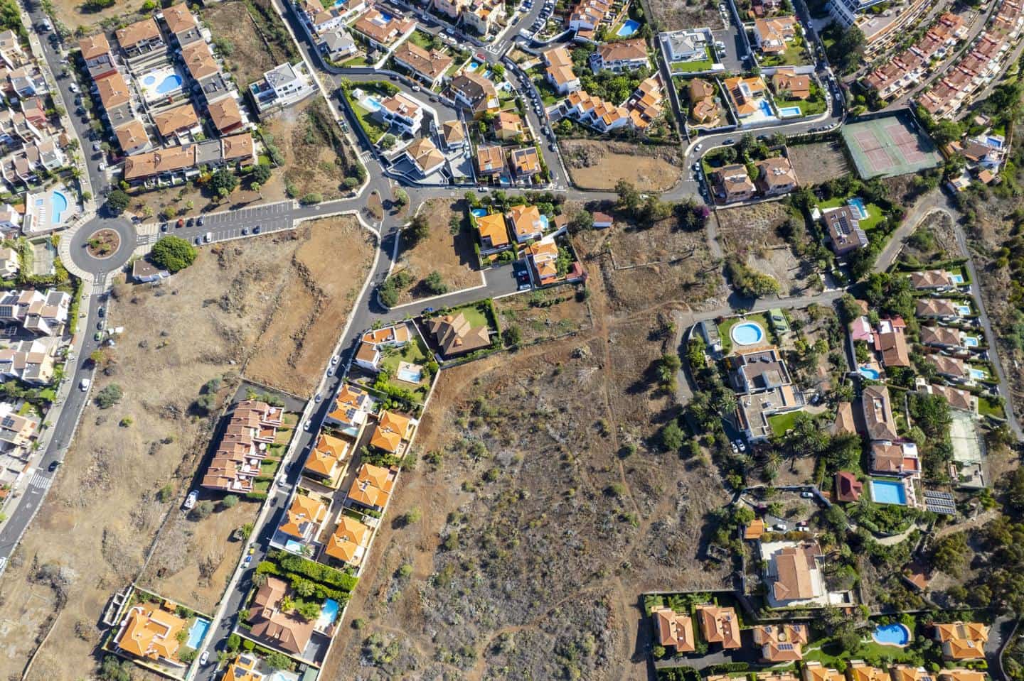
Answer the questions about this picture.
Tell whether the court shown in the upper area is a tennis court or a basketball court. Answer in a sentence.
In the photo, the court shown in the upper area shows up as a tennis court.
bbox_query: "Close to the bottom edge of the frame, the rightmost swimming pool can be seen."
[872,623,910,647]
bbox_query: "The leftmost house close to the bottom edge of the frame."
[123,609,192,661]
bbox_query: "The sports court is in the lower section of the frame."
[949,412,981,463]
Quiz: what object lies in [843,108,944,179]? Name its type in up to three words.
tennis court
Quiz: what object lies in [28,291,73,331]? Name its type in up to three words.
house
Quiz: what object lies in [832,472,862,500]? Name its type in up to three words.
house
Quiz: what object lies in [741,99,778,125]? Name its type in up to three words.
swimming pool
